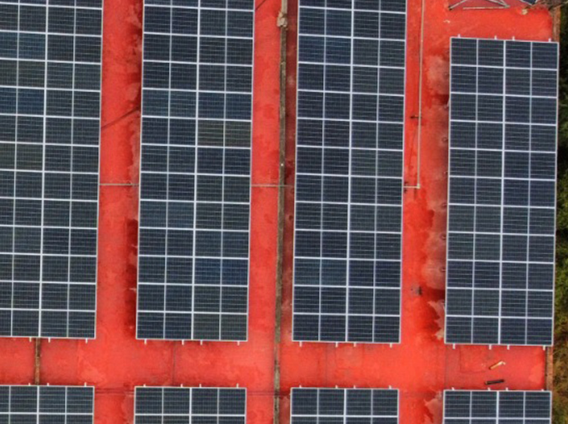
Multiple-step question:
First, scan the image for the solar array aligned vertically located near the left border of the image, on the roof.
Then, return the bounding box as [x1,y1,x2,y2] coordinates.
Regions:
[0,0,103,343]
